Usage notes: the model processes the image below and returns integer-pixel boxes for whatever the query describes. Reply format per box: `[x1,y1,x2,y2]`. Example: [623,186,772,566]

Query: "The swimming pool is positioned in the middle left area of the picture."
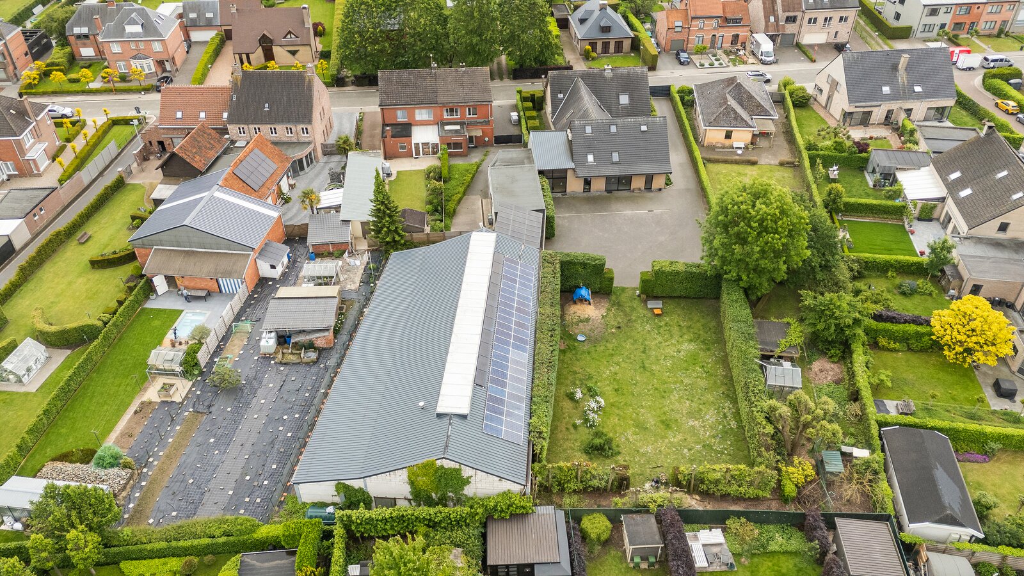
[169,309,212,340]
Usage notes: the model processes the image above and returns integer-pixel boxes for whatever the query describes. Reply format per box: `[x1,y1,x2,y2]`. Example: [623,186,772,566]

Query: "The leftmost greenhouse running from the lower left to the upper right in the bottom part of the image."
[0,336,66,392]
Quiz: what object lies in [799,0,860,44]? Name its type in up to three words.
house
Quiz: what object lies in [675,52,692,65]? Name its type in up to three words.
vehicle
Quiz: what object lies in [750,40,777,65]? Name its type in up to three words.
truck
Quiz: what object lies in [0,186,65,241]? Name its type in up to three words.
building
